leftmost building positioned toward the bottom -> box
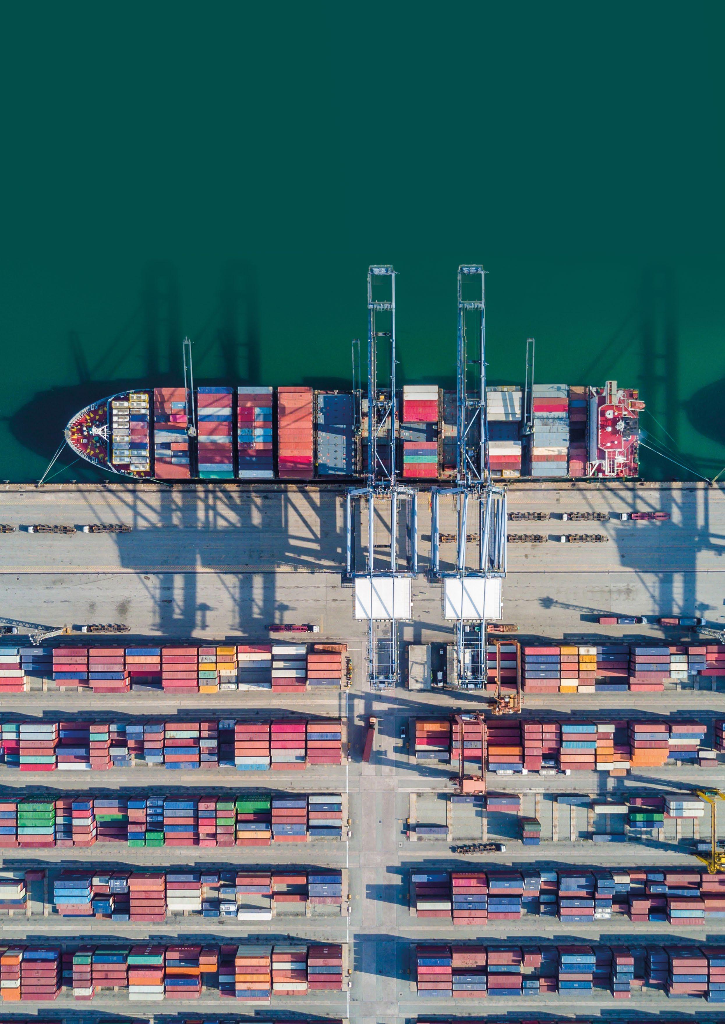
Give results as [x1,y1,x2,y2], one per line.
[408,644,431,689]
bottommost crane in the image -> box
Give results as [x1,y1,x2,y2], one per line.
[690,785,725,872]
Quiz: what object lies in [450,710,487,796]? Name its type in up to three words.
container crane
